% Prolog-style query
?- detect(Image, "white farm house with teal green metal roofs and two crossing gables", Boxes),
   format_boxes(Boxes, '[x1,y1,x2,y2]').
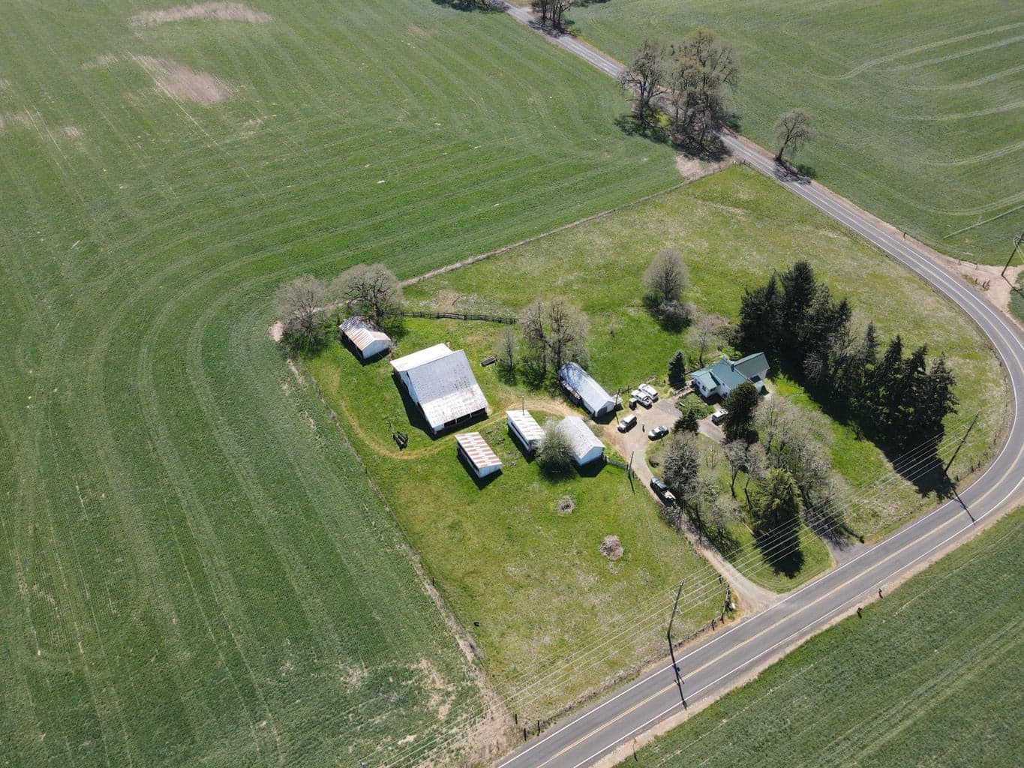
[688,352,773,399]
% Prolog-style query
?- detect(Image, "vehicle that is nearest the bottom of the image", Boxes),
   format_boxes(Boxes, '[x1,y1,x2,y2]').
[651,480,676,503]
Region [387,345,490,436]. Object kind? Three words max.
barn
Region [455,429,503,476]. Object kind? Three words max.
shed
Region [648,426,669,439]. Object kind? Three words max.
vehicle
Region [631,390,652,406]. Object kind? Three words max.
vehicle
